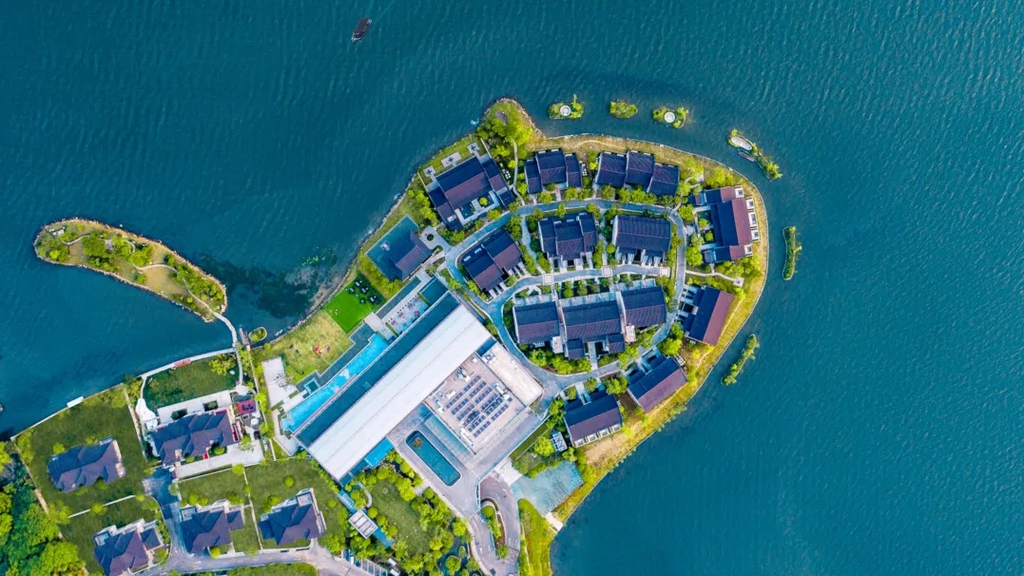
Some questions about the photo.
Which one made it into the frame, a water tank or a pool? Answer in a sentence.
It is a pool that can be seen here.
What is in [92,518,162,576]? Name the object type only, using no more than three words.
house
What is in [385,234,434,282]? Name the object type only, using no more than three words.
building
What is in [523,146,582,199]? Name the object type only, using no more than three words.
house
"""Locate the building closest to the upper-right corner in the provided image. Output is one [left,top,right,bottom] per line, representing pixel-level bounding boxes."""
[687,186,761,265]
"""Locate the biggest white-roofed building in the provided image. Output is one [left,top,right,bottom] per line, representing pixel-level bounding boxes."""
[290,291,543,510]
